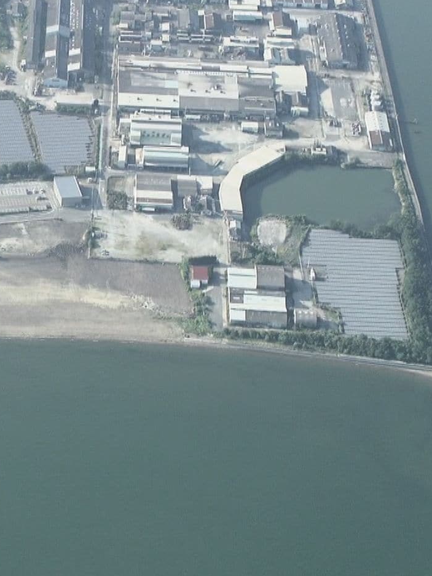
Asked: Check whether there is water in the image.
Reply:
Yes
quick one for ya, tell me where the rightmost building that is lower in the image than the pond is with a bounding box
[294,309,317,329]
